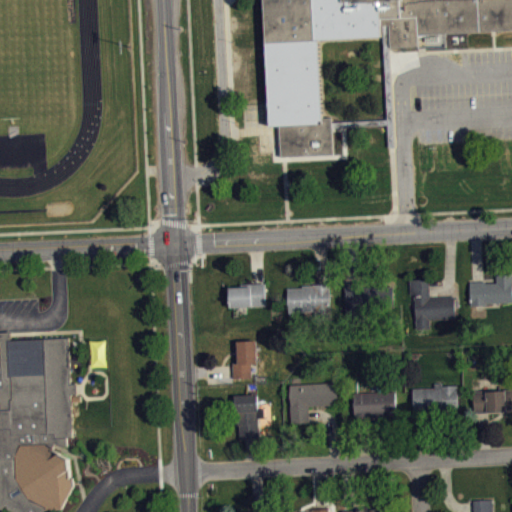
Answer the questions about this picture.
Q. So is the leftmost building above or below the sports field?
below it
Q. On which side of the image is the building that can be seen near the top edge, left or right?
right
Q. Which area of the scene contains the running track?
top left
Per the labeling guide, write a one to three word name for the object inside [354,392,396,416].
house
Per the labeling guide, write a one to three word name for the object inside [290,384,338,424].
house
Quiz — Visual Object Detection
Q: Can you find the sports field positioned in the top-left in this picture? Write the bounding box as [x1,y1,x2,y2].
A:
[0,0,82,172]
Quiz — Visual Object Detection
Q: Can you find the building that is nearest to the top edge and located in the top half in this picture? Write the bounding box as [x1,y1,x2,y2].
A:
[263,0,512,156]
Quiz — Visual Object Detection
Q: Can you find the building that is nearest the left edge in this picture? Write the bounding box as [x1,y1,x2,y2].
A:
[0,333,78,512]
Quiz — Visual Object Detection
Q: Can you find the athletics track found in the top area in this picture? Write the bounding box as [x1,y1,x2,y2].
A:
[0,0,102,212]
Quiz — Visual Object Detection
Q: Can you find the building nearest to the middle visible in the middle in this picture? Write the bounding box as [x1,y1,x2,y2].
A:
[228,283,267,310]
